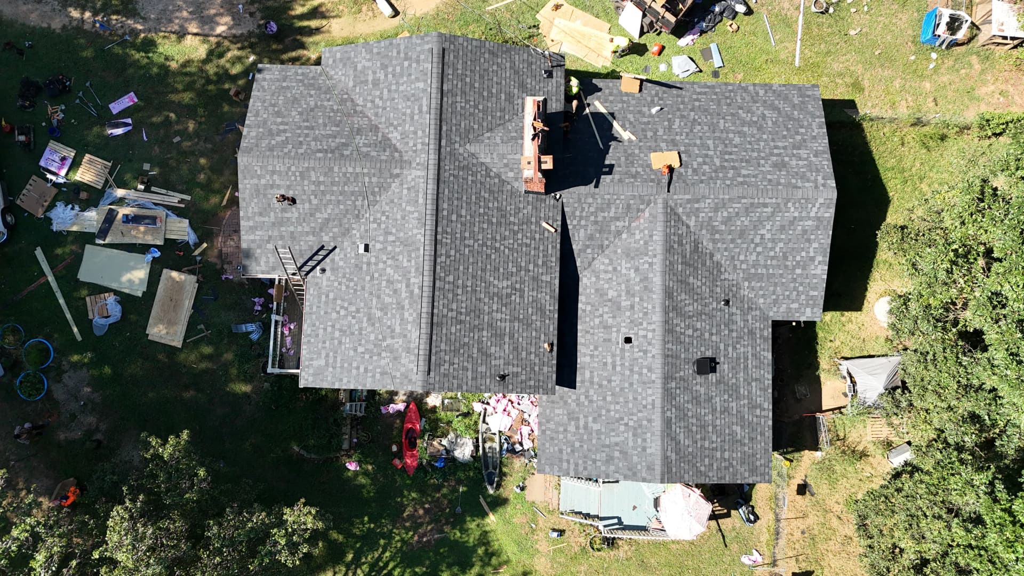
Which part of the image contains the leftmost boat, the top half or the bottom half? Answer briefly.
bottom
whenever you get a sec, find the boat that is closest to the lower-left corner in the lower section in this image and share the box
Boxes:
[401,404,421,475]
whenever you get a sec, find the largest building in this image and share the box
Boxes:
[238,31,837,485]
